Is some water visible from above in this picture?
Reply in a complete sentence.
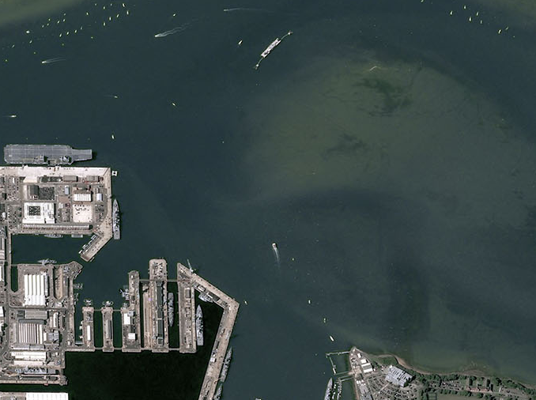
Yes, there's water in this view.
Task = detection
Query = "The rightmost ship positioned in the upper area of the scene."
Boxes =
[260,31,289,59]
